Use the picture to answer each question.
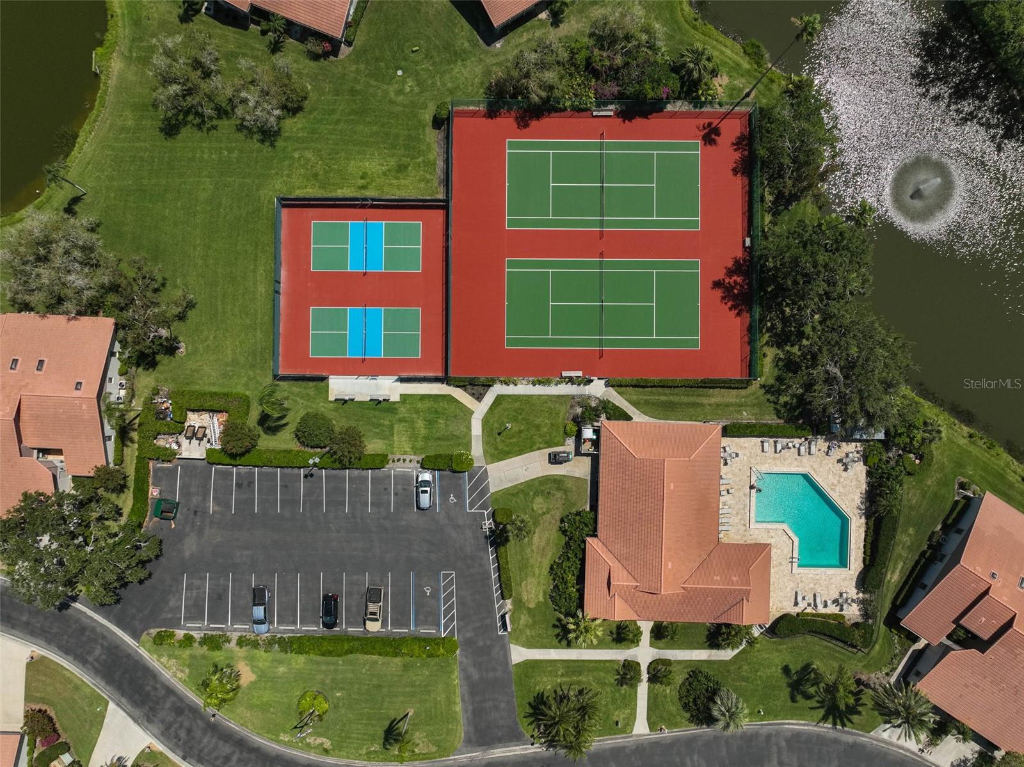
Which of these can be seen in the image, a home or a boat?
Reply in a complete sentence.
Visible in the photo is a home.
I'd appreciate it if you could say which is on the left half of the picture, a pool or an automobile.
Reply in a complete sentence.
It is an automobile that can be seen on the left half of the picture.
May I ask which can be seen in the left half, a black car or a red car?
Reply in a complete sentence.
The one visible in the left half is a black car.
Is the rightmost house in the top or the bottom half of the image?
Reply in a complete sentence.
It is in the bottom half that the rightmost house appears.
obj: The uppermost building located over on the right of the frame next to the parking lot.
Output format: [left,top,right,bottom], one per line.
[585,420,772,624]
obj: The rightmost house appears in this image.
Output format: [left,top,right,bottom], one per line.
[895,491,1024,764]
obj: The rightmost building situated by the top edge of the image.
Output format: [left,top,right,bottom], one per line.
[468,0,564,39]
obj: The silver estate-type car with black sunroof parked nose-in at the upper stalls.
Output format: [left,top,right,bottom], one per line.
[413,472,432,511]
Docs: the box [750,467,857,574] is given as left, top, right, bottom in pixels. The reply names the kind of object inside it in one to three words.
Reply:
swimming pool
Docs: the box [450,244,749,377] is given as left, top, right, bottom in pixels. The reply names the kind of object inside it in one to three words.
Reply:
tennis court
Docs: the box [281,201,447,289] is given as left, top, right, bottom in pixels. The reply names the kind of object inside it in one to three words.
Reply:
sports court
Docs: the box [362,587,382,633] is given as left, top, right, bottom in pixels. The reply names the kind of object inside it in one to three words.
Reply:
vehicle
